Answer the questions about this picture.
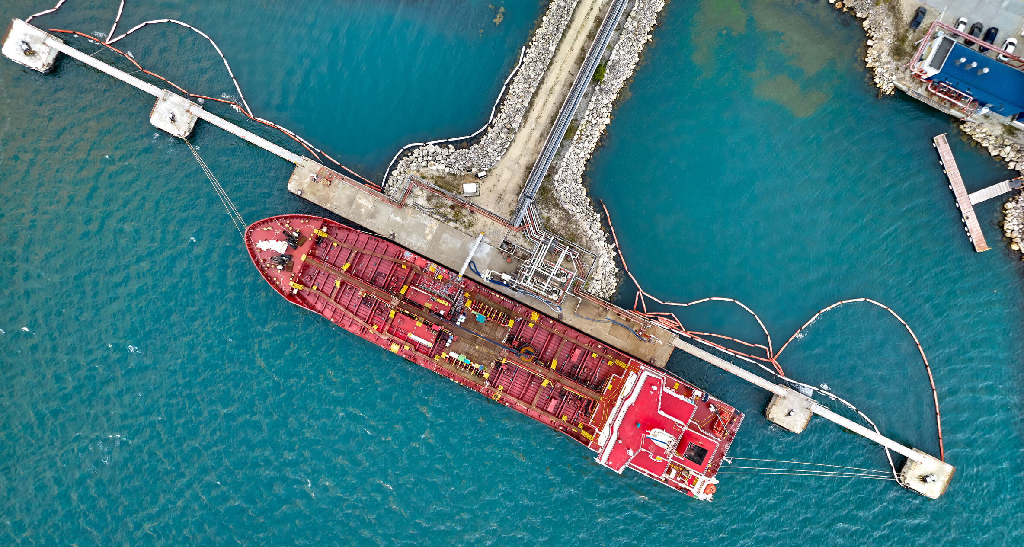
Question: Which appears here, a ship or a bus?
ship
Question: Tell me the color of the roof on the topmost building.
blue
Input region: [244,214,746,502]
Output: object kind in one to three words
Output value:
ship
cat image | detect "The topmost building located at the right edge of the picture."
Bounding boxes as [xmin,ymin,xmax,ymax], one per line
[916,35,1024,116]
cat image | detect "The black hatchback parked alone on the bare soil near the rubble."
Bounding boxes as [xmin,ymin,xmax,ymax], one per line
[911,5,929,29]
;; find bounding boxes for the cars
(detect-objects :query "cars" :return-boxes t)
[952,15,970,37]
[911,5,929,29]
[966,20,986,45]
[981,25,1000,51]
[998,35,1020,61]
